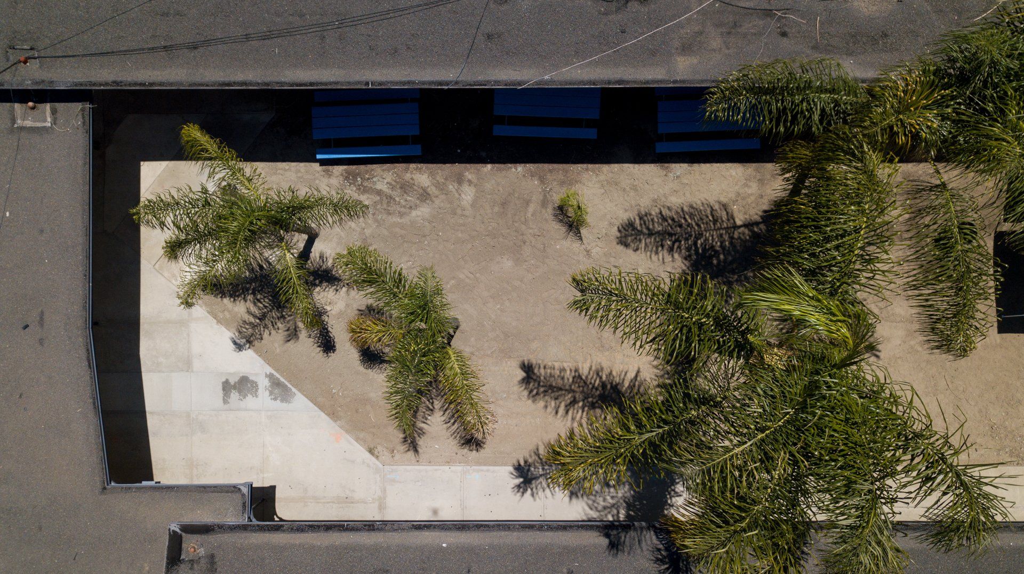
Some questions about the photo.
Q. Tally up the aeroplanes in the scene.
0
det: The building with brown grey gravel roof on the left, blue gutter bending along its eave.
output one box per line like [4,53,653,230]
[0,89,253,574]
